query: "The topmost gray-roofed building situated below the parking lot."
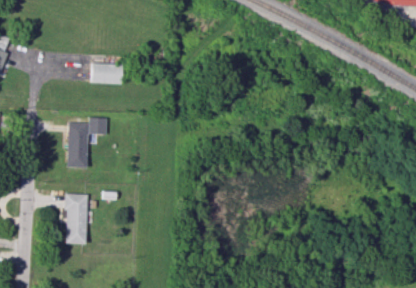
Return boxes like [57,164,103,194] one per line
[68,118,108,168]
